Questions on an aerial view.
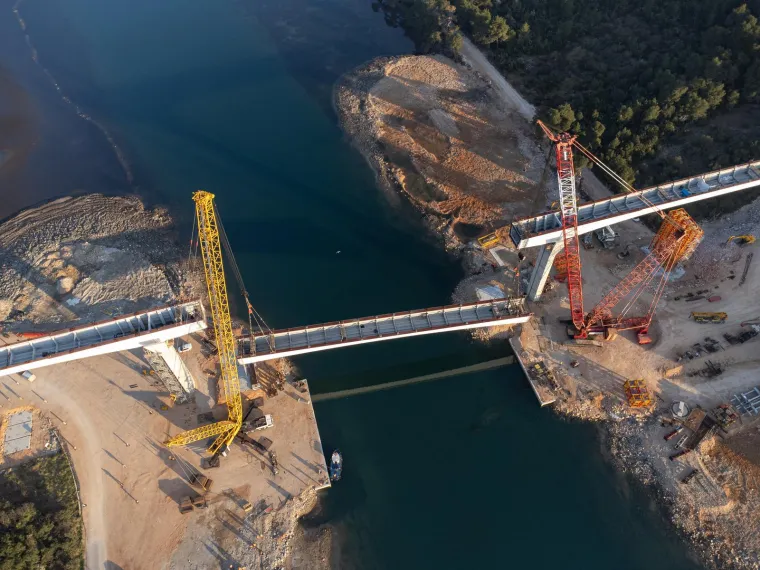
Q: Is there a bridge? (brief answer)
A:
Yes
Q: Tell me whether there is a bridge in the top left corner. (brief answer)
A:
No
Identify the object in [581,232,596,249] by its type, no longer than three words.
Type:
vehicle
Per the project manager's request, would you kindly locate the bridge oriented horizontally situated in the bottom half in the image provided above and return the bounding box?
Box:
[0,298,210,387]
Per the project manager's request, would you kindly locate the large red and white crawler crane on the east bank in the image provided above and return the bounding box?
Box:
[476,131,687,344]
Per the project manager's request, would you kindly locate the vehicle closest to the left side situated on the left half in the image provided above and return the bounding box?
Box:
[17,370,36,384]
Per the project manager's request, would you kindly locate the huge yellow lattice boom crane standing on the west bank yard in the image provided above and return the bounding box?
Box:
[163,189,278,494]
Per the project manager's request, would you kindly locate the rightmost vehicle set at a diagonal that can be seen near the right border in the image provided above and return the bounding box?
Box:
[734,321,760,344]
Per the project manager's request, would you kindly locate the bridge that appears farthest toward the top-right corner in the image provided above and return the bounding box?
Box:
[508,162,760,297]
